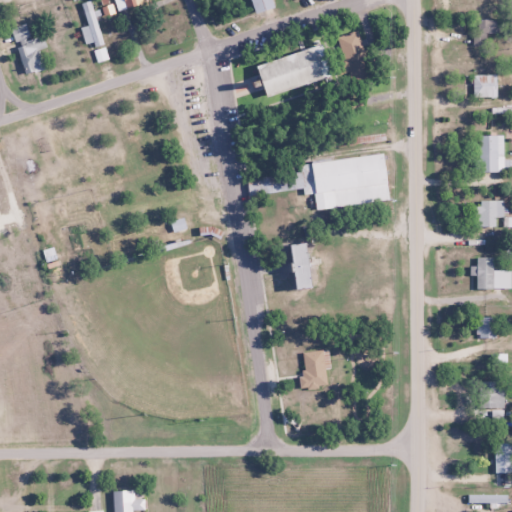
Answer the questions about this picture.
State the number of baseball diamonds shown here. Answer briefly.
1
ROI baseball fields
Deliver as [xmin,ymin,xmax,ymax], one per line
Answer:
[74,243,249,420]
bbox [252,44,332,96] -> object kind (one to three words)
building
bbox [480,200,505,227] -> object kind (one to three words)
house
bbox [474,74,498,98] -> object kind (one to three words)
house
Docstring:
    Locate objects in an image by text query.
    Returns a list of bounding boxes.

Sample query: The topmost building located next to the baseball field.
[249,154,391,210]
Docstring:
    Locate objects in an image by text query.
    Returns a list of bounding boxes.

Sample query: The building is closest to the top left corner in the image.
[14,26,48,74]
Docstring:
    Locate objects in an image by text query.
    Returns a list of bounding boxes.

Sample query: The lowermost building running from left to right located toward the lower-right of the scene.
[469,495,510,509]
